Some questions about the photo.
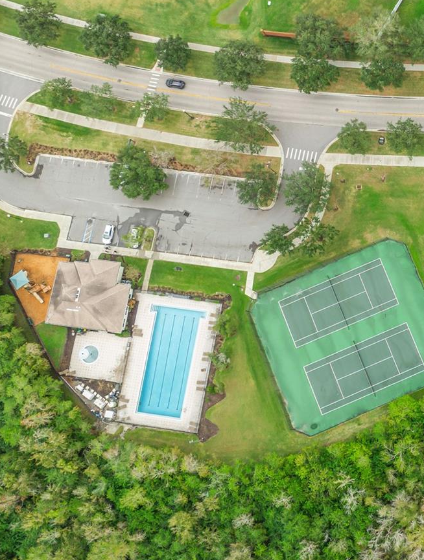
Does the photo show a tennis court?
Yes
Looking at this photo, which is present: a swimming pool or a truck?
swimming pool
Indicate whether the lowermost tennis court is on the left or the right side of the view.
right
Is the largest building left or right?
left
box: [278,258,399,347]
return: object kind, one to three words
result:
tennis court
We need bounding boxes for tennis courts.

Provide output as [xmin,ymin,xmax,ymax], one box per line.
[304,322,424,415]
[278,258,399,347]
